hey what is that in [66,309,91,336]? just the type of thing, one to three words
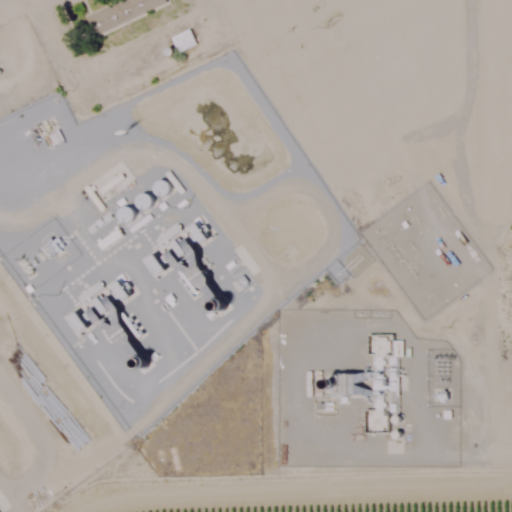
house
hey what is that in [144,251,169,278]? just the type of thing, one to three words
house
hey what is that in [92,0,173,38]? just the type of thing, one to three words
barn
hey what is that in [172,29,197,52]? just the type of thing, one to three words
shed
